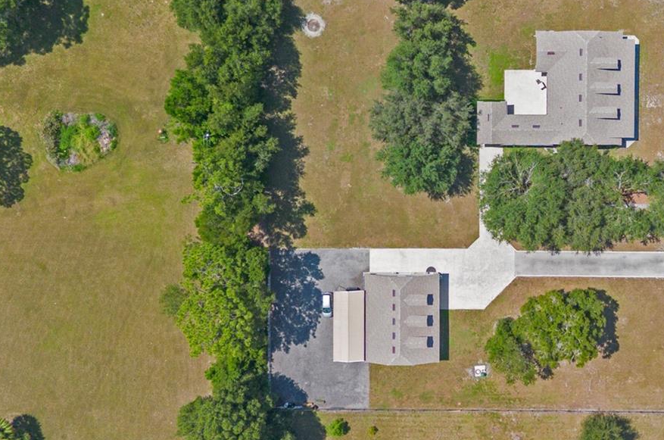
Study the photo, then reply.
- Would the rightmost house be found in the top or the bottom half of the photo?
top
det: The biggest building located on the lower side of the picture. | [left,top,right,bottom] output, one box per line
[366,272,440,363]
